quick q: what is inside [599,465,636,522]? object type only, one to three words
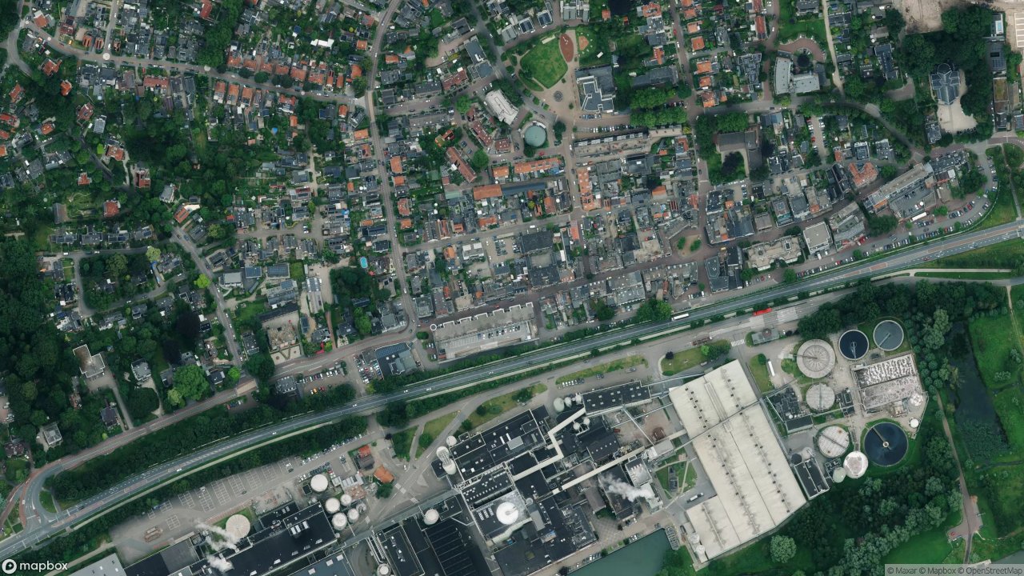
building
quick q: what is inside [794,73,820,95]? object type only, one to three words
building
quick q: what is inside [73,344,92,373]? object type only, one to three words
house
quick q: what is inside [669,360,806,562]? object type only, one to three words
warehouse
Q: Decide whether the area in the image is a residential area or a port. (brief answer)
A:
residential area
